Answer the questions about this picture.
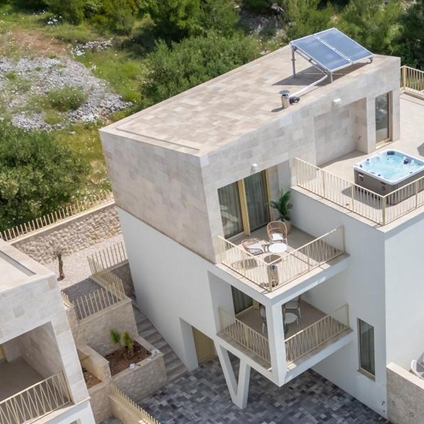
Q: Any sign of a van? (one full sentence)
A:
No, the photo shows no van.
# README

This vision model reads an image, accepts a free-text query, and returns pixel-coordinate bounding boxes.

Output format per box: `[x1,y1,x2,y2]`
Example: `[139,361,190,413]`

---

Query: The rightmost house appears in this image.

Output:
[100,47,424,419]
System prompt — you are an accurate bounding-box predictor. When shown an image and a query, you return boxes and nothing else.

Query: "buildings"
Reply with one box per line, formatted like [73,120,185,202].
[100,47,424,419]
[0,238,97,424]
